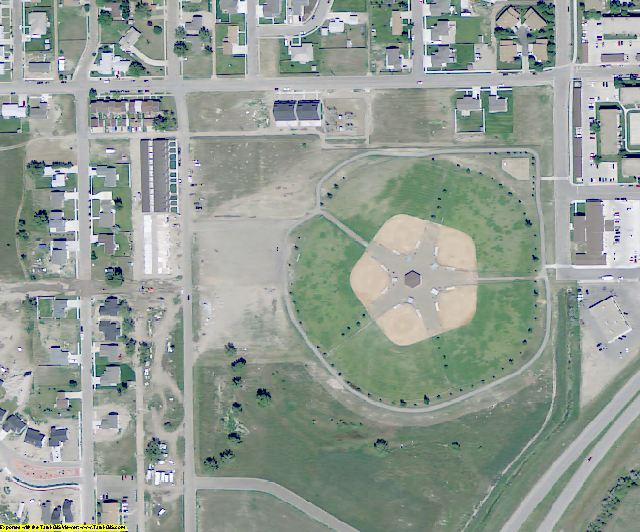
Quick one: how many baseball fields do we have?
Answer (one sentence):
The picture shows 5 baseball fields.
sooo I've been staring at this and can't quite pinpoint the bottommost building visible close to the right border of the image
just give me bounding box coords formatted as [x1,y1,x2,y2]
[590,296,632,342]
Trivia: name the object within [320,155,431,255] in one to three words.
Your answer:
baseball field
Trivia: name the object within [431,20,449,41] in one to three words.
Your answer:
house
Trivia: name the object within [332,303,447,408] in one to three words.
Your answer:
baseball field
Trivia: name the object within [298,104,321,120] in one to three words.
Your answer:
building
